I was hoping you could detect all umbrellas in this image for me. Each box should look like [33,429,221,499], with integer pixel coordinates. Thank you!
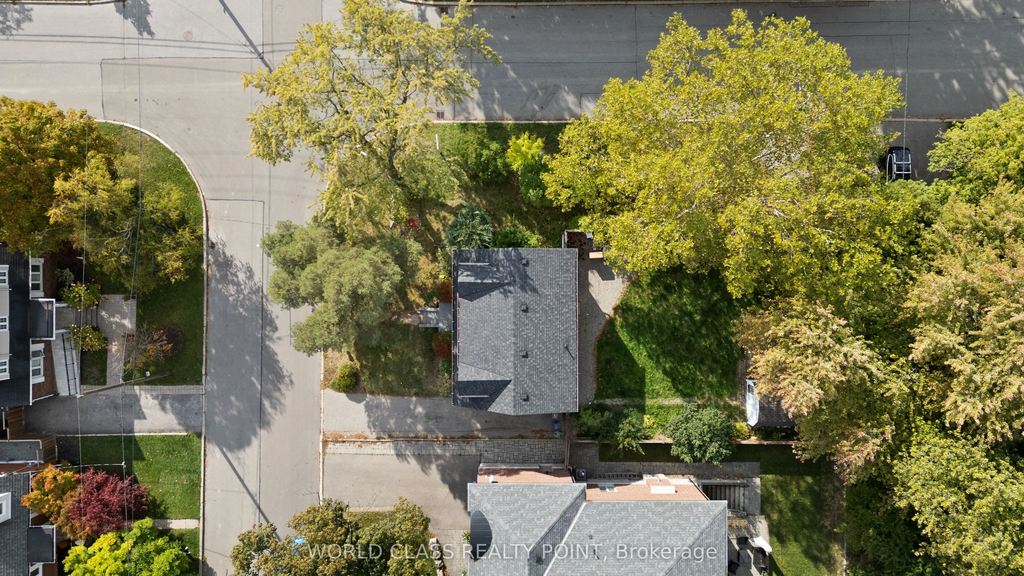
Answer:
[752,535,771,555]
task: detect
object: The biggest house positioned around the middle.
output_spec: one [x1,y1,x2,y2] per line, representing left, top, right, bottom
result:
[420,247,580,415]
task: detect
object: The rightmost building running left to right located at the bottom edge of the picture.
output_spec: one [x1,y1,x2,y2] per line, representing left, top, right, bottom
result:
[466,462,729,576]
